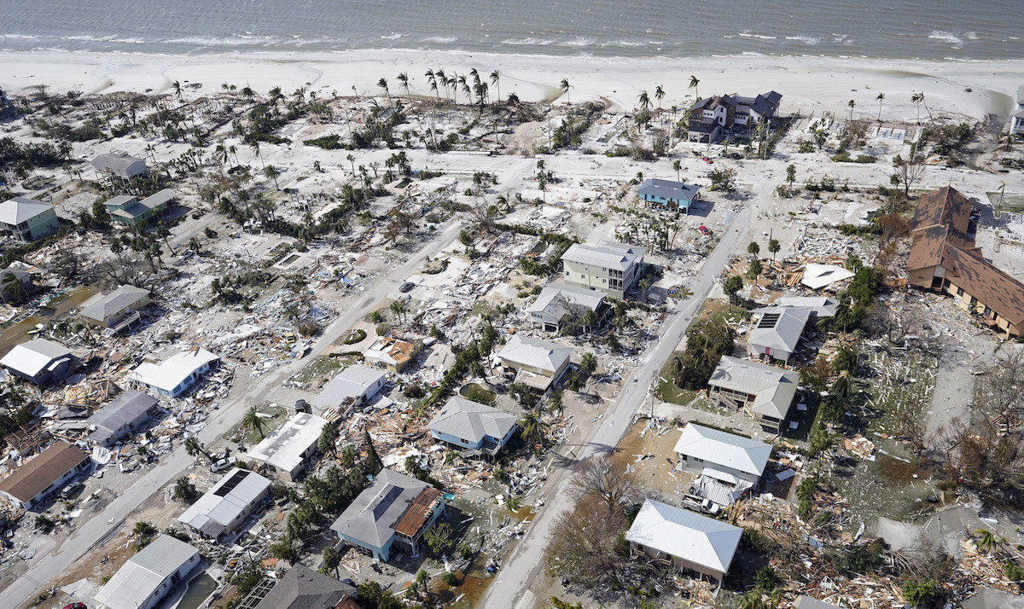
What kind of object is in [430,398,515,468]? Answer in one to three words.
house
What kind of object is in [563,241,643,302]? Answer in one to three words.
house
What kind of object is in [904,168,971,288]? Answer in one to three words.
building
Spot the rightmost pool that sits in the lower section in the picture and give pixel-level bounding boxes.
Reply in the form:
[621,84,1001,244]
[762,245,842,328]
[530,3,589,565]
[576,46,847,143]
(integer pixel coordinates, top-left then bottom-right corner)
[458,383,498,406]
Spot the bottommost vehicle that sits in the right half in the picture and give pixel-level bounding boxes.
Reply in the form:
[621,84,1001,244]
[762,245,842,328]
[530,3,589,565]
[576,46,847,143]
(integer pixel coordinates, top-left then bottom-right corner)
[682,493,720,512]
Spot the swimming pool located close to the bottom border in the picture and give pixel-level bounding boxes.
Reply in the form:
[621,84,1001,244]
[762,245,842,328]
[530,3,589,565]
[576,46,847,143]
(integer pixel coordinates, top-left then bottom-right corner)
[173,568,222,609]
